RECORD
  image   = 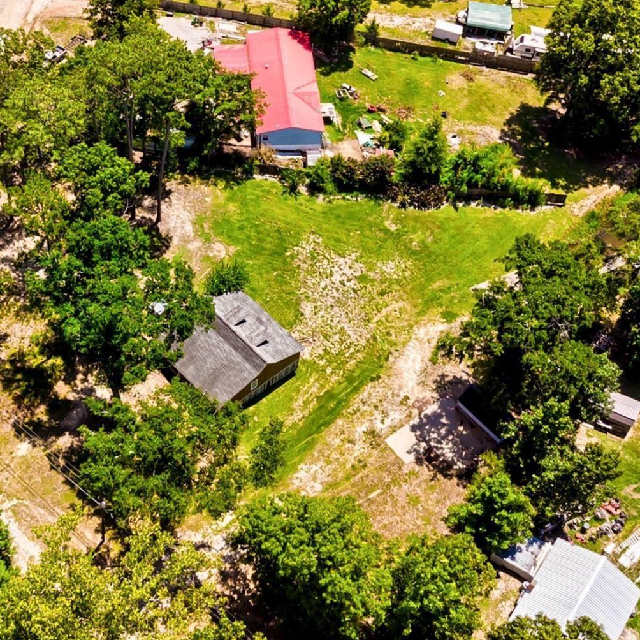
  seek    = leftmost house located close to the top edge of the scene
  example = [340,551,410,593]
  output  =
[214,26,334,151]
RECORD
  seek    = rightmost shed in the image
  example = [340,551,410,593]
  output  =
[611,395,640,431]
